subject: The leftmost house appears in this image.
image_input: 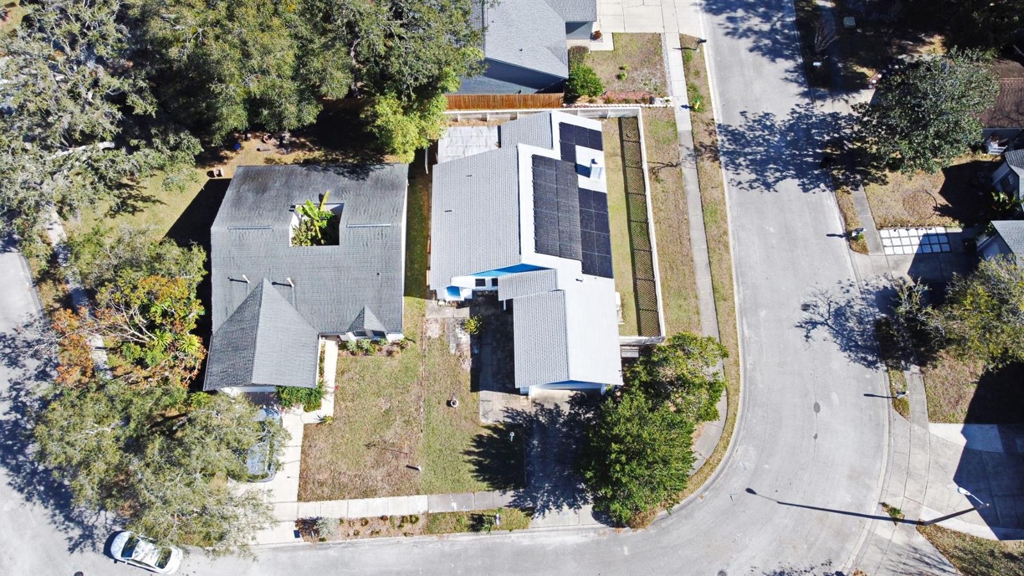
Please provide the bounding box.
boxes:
[206,161,410,398]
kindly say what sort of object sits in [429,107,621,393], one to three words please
house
